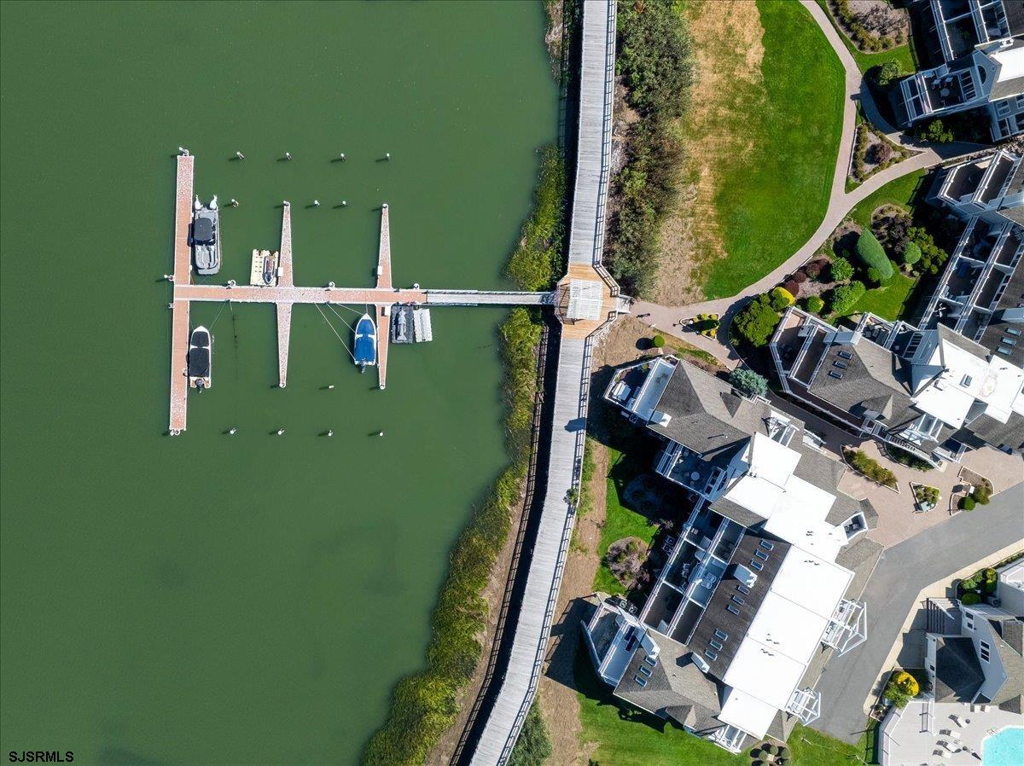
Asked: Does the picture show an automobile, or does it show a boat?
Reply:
boat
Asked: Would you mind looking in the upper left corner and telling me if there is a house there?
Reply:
No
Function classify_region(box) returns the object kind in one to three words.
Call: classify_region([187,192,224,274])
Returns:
boat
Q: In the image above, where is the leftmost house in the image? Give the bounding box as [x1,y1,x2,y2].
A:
[580,357,884,756]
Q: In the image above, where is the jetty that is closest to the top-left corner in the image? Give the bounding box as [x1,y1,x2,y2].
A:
[170,156,427,429]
